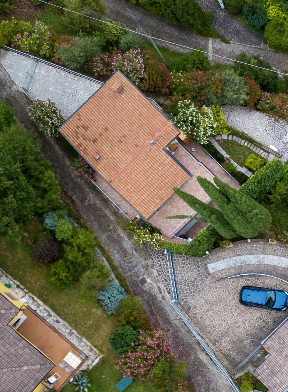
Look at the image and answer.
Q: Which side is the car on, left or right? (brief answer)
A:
right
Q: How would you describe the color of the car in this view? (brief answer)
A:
blue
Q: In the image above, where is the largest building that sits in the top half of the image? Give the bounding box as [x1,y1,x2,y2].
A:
[57,69,236,239]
